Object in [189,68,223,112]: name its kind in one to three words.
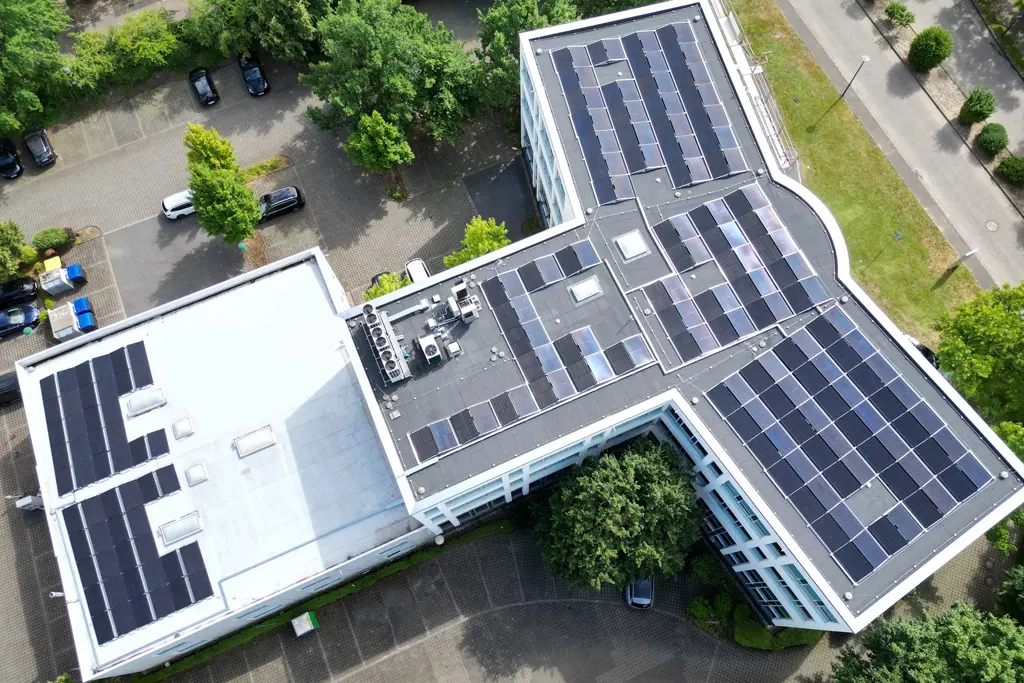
car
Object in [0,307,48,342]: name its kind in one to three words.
car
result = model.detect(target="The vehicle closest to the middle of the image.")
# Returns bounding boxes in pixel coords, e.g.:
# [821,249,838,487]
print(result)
[402,253,432,282]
